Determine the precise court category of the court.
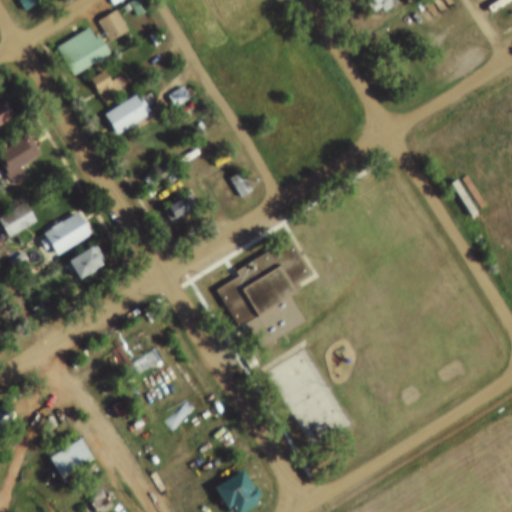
basketball court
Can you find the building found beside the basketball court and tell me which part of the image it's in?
center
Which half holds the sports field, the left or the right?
right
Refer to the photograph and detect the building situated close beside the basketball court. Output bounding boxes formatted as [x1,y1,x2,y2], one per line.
[216,242,310,345]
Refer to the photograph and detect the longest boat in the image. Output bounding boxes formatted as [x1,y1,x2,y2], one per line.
[118,332,132,358]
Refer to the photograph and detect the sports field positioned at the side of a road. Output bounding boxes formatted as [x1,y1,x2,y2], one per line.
[290,163,502,458]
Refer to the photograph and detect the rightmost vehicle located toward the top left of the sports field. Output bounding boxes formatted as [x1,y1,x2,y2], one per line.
[214,155,232,167]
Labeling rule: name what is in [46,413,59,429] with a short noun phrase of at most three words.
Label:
vehicle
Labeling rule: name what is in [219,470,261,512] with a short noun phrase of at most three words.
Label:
house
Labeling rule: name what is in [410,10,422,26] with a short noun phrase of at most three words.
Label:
vehicle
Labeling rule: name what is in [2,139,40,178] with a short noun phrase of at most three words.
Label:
house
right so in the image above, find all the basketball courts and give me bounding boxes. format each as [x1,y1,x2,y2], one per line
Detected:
[270,351,352,442]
